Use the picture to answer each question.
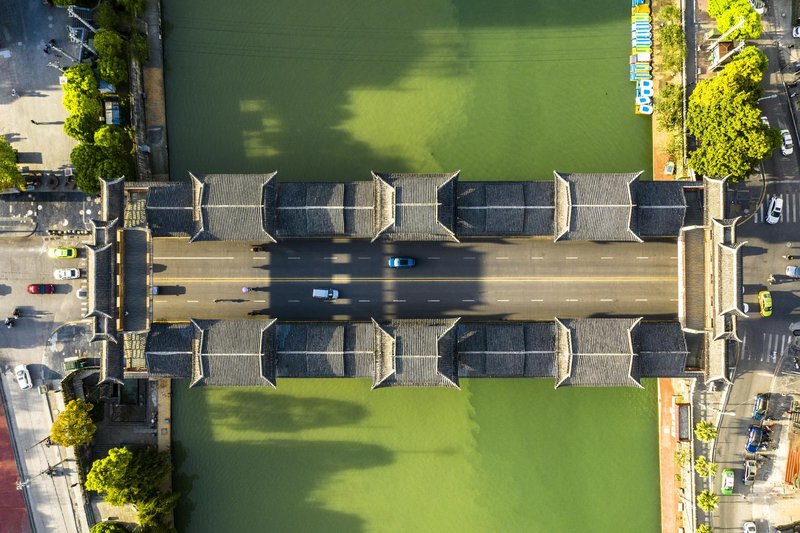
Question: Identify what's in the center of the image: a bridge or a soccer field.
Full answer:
Visible in the center of the image is a bridge.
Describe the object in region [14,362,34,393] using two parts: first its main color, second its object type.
white car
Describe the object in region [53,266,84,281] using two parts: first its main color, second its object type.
white car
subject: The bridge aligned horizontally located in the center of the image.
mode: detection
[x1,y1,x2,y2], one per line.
[127,187,702,371]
